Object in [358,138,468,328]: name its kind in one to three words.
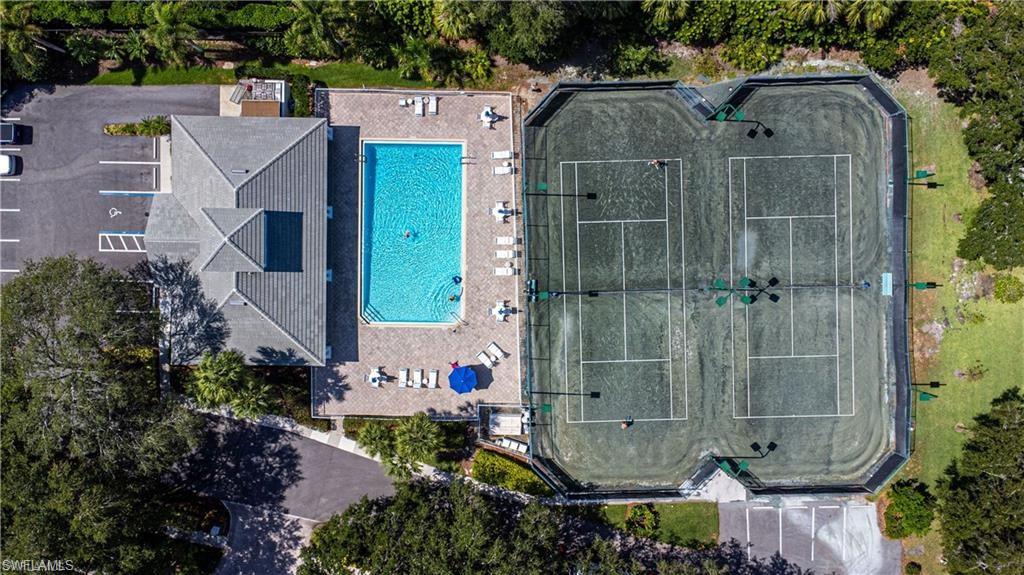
swimming pool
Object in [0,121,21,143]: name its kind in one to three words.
truck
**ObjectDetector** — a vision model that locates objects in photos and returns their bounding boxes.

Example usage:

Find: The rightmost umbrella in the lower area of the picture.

[448,364,478,394]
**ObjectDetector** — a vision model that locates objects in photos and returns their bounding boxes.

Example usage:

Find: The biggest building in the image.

[140,115,333,366]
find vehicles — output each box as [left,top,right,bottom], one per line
[0,121,21,143]
[0,155,15,176]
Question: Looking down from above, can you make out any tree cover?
Yes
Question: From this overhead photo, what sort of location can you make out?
sports ground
